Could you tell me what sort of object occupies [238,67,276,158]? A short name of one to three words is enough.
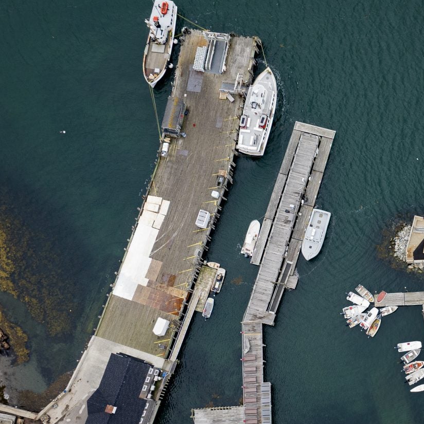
boat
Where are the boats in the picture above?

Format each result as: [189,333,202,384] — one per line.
[392,340,422,352]
[339,305,366,318]
[402,368,424,385]
[242,220,259,261]
[411,384,424,392]
[345,291,369,309]
[238,67,276,158]
[378,290,387,303]
[303,207,330,259]
[202,297,214,321]
[355,284,374,303]
[208,261,220,269]
[400,361,424,374]
[359,307,379,331]
[367,315,382,340]
[380,306,397,317]
[344,313,366,328]
[139,0,176,86]
[212,269,226,297]
[399,350,420,364]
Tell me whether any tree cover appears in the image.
No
